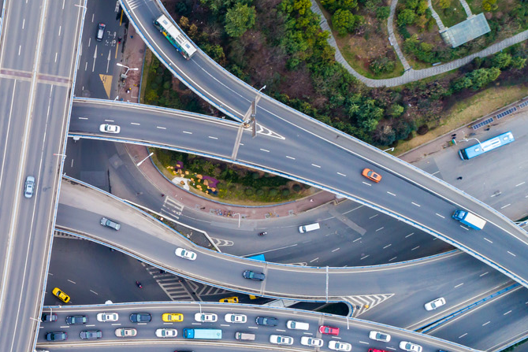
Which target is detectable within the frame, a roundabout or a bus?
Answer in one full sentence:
It is a bus that can be seen here.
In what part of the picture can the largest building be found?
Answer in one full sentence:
The largest building is located in the top right region of the scene.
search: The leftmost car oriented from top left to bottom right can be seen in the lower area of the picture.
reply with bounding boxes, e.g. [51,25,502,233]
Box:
[51,287,70,303]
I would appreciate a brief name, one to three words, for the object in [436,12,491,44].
building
